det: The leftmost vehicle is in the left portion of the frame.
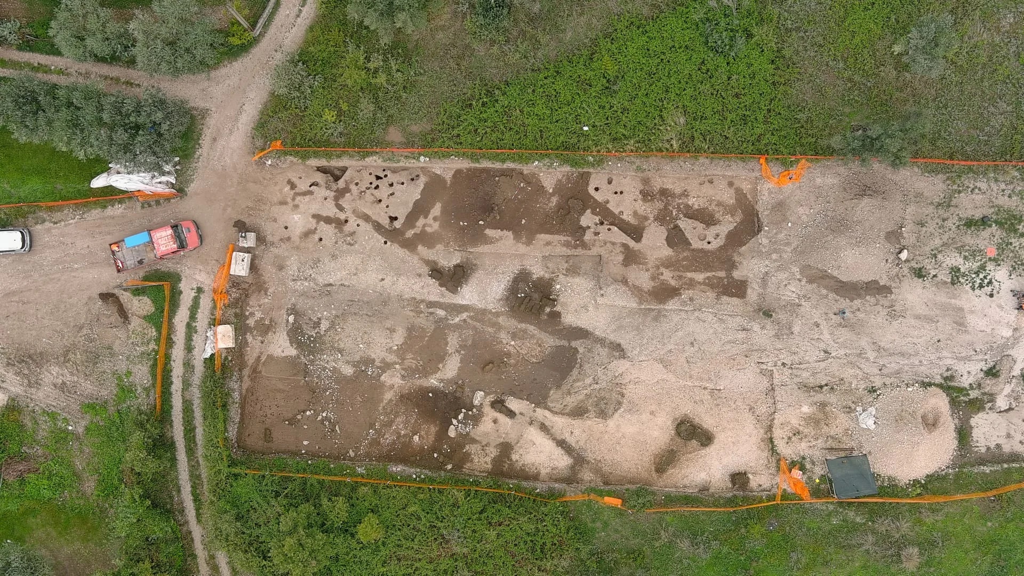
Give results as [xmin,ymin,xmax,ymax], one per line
[0,226,34,255]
